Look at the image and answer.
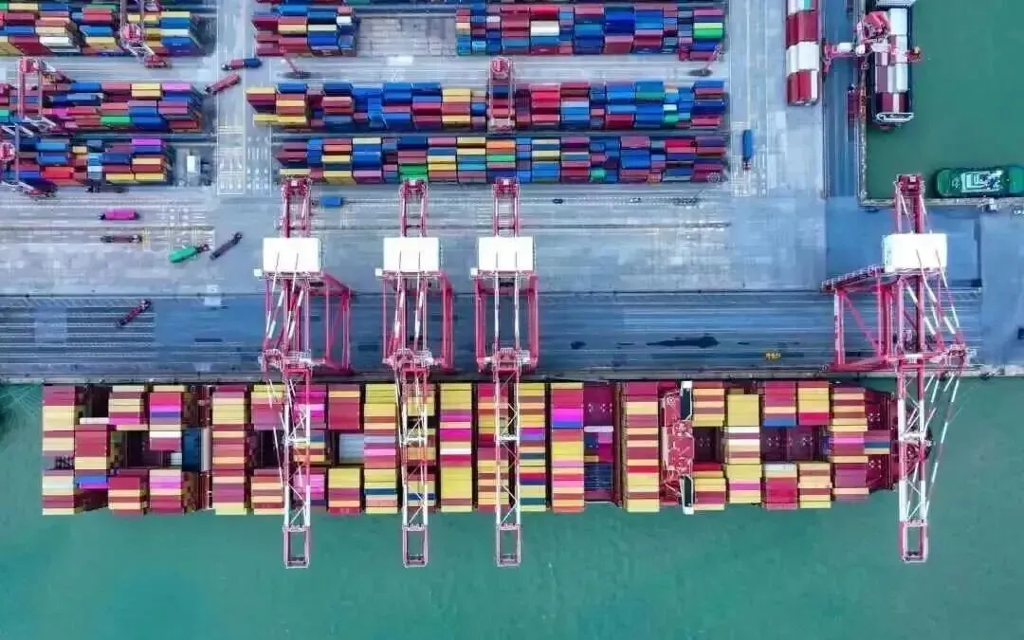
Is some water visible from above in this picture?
Yes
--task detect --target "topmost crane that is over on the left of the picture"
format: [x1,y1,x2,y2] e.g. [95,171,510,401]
[119,0,173,75]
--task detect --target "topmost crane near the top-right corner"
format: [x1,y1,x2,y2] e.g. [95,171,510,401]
[818,15,928,79]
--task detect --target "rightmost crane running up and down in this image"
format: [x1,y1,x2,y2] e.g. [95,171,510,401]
[822,174,972,565]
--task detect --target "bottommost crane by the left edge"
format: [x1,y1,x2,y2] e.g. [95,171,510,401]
[0,118,56,210]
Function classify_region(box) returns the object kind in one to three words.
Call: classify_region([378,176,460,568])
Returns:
container crane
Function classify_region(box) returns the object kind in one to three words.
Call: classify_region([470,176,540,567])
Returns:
container crane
